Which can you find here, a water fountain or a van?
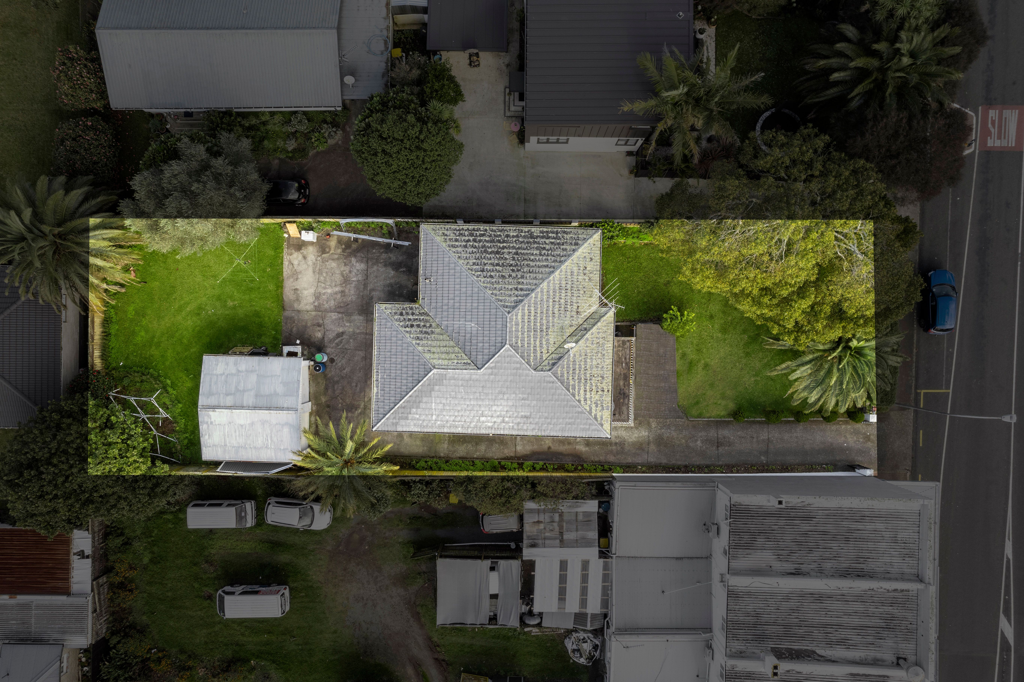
van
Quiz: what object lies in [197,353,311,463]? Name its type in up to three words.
building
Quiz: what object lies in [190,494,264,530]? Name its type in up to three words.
van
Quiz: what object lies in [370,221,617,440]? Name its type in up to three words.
house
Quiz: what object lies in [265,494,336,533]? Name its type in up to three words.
car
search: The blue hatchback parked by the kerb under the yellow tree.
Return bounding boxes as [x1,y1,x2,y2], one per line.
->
[917,270,958,335]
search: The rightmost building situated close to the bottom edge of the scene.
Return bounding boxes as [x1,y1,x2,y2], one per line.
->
[601,472,943,682]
